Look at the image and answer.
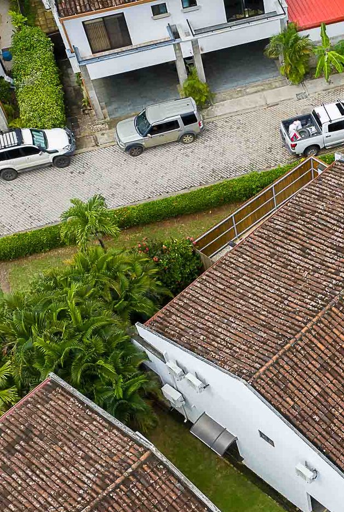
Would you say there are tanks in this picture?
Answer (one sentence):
No, there appears to be no tank in this shot.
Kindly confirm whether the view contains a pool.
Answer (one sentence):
No, no pool is visible in the scene.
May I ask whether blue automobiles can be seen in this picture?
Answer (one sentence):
No, no blue automobile is visible in the scene.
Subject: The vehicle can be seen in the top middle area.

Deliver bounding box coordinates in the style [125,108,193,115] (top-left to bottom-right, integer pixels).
[111,93,205,158]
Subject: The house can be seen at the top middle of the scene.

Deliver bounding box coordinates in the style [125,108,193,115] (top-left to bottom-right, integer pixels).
[53,0,288,115]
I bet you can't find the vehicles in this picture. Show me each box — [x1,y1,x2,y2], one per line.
[111,93,205,158]
[0,125,79,183]
[278,95,344,155]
